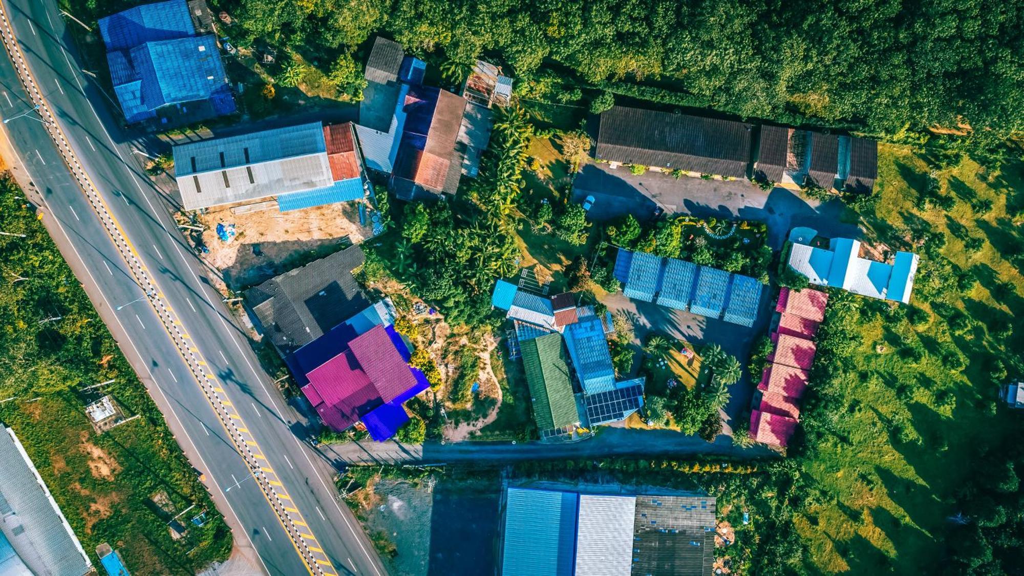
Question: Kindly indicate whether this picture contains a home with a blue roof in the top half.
Yes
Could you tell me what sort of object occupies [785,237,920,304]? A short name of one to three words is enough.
house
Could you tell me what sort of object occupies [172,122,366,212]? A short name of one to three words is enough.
building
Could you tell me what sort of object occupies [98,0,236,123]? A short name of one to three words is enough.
house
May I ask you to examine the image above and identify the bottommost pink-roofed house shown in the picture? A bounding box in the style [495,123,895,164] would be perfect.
[741,410,798,447]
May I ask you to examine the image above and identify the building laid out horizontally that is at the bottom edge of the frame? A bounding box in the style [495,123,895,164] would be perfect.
[502,484,716,576]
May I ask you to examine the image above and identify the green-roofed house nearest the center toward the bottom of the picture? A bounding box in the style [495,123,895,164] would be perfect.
[517,333,579,431]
